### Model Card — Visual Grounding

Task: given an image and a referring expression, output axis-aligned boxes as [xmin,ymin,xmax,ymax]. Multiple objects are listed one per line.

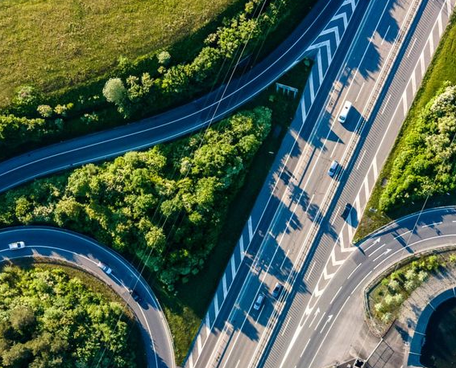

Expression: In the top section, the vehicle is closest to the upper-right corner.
[339,100,353,122]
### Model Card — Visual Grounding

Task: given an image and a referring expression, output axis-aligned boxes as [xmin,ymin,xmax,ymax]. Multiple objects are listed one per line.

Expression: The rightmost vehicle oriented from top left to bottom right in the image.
[127,287,142,303]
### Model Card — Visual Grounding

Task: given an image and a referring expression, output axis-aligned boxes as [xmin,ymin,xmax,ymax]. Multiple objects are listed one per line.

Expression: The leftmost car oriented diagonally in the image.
[97,260,111,275]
